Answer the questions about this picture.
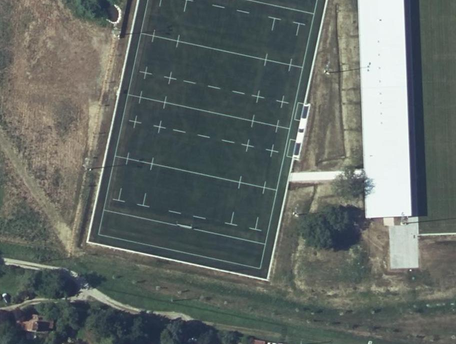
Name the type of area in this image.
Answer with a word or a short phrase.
sports ground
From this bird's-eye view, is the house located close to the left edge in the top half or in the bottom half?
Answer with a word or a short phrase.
bottom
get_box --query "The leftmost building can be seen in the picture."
[22,314,54,334]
